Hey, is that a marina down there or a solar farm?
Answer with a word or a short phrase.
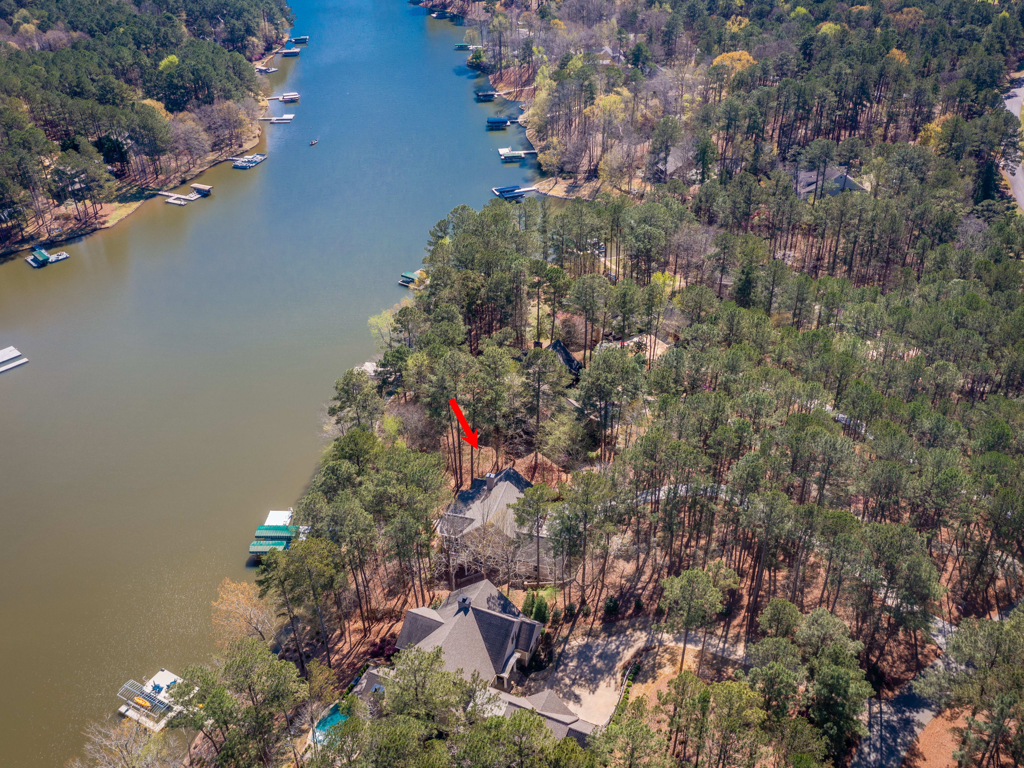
marina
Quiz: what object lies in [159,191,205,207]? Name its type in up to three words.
pier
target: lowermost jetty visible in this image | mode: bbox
[117,670,210,731]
